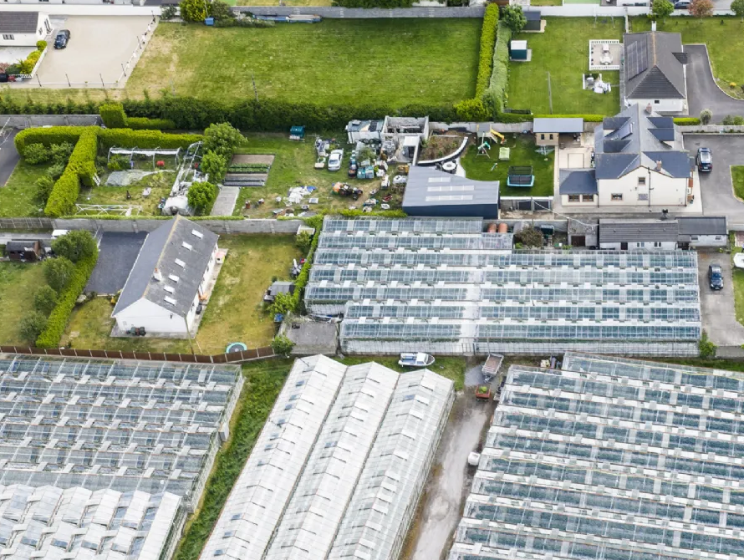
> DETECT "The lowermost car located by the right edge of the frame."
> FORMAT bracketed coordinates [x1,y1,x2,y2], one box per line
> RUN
[706,262,724,287]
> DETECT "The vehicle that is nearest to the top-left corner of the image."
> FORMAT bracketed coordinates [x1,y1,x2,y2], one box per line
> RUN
[52,30,70,48]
